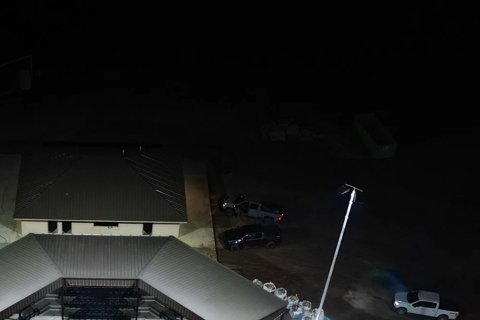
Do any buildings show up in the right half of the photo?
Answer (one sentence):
No, no building can be made out in the right half of the photo.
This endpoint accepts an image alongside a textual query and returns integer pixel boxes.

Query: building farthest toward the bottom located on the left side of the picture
[13,130,188,237]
